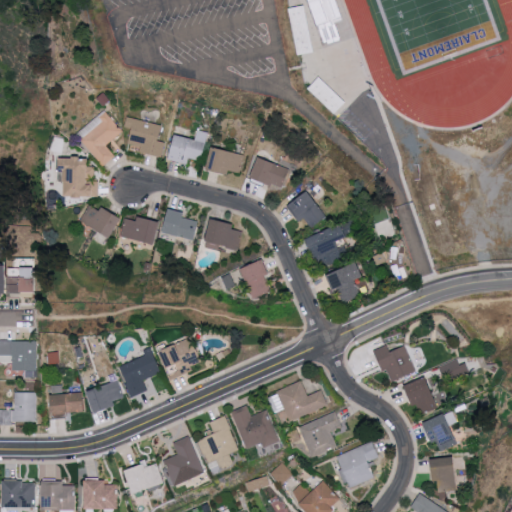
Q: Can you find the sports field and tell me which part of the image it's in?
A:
top right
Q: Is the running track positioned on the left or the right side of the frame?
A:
right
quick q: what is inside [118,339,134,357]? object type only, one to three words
swimming pool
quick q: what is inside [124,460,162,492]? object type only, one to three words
house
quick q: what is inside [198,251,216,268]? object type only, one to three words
swimming pool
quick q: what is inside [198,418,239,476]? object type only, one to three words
house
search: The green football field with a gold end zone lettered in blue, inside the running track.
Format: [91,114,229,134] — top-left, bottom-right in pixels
[370,0,506,78]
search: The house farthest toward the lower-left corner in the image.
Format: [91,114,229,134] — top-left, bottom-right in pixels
[1,480,34,508]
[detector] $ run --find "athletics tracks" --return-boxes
[342,0,512,130]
